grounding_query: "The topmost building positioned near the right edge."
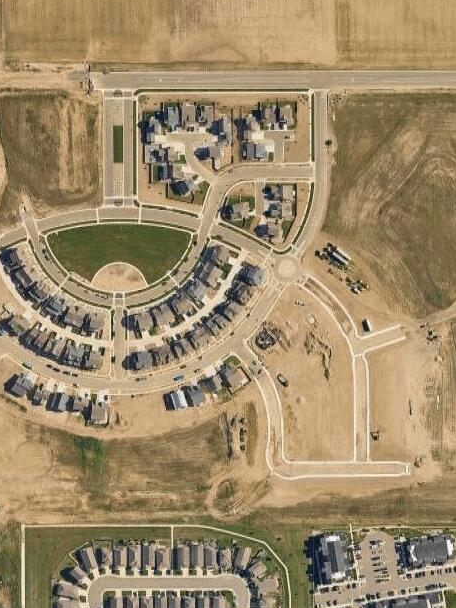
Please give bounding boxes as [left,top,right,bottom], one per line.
[408,535,456,568]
